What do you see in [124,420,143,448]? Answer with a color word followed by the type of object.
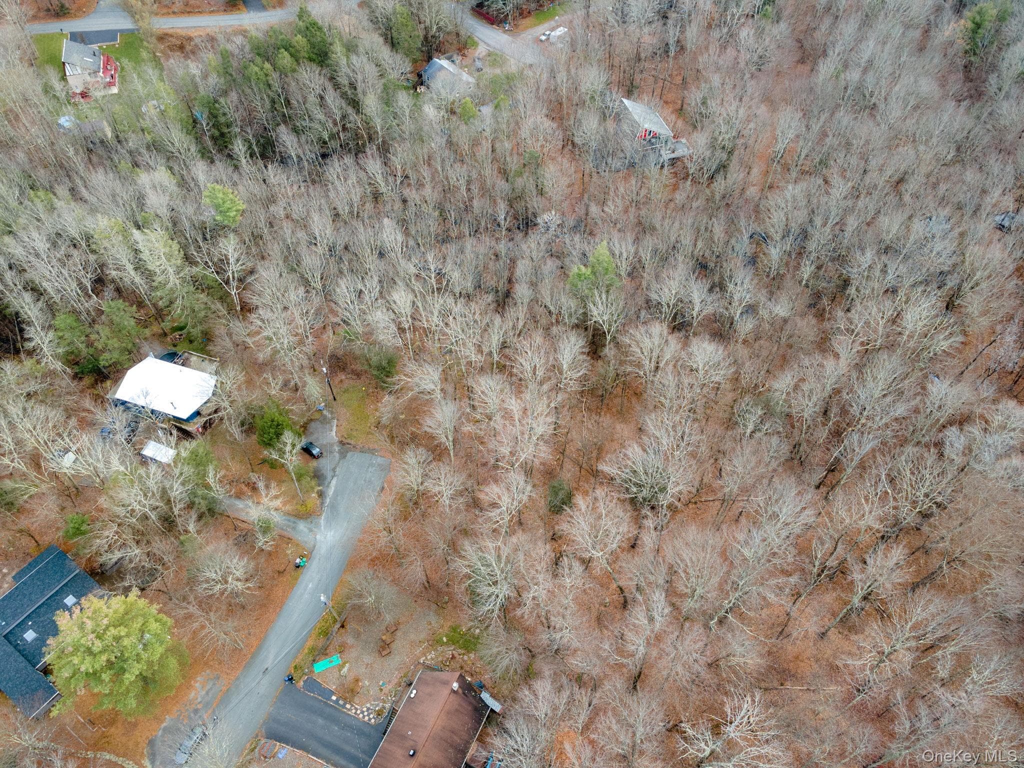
gray vehicle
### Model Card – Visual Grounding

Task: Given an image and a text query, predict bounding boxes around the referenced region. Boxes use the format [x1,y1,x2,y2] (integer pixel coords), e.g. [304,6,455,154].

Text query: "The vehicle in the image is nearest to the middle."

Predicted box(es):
[301,442,326,461]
